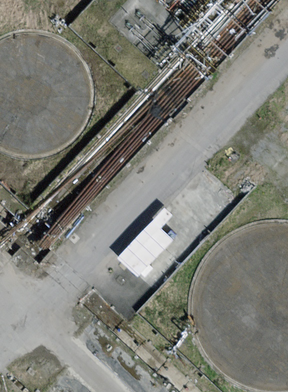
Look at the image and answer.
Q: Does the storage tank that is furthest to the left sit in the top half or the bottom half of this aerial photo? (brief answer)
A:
top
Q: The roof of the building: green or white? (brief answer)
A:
white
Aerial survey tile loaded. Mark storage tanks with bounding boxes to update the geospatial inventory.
[188,219,288,392]
[0,30,94,158]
